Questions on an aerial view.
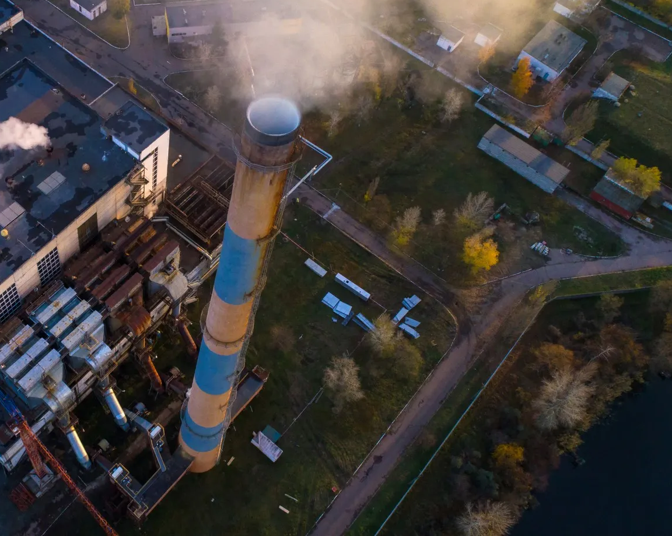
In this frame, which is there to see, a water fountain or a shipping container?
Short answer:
shipping container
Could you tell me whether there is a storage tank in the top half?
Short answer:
No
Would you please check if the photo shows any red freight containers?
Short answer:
No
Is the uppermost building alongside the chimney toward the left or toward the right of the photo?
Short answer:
left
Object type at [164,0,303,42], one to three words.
building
